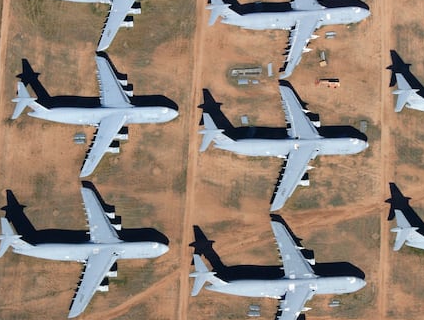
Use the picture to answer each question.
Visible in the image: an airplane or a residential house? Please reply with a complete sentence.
I can see an airplane in this picture.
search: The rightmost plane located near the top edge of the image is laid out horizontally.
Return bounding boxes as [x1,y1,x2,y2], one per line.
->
[206,0,370,79]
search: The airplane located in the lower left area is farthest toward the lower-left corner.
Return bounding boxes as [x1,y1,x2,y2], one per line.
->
[0,188,170,318]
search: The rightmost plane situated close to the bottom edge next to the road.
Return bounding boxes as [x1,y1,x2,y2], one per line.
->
[189,223,367,320]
